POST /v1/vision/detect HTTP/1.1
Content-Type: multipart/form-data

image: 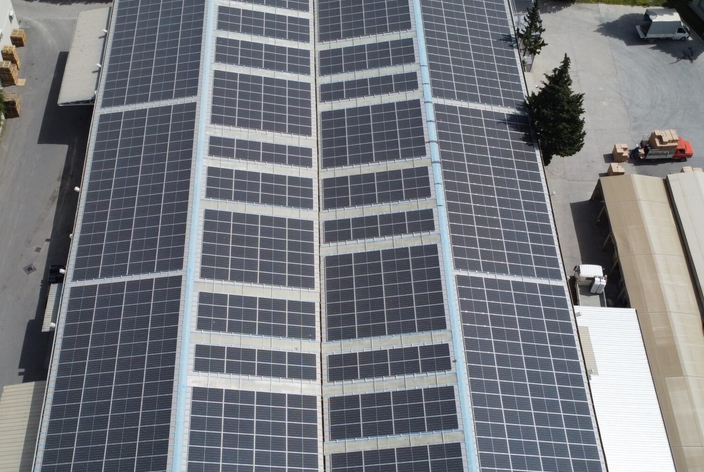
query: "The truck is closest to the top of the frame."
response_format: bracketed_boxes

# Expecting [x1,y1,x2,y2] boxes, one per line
[634,7,692,40]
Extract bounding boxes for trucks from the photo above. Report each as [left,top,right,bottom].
[634,7,692,40]
[632,134,696,164]
[571,267,608,308]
